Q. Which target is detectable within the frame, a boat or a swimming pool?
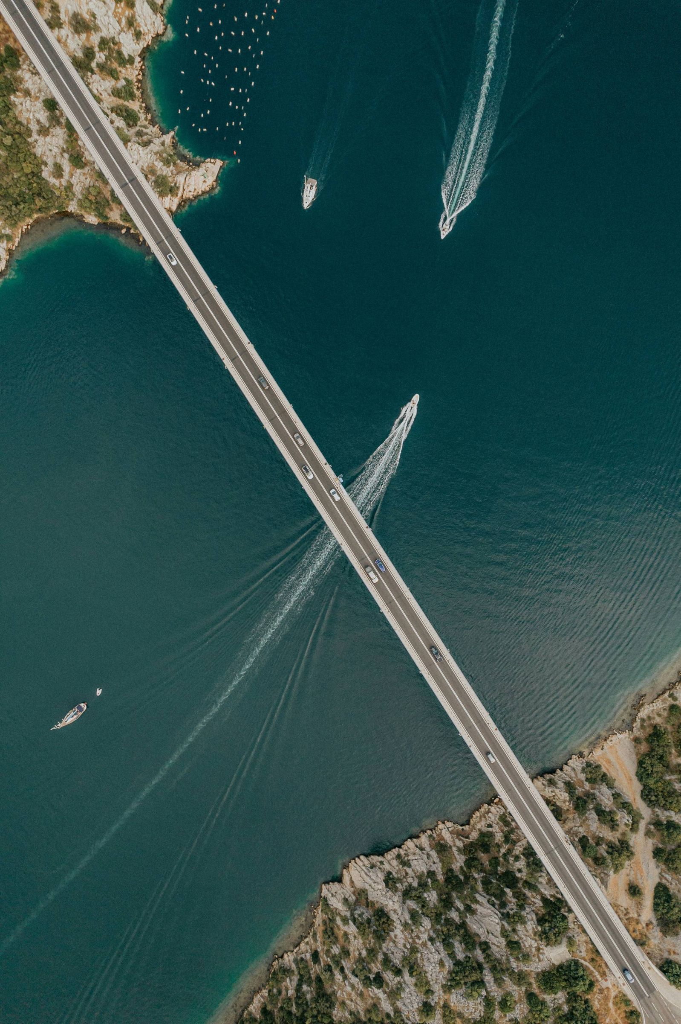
boat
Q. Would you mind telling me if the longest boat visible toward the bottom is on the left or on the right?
left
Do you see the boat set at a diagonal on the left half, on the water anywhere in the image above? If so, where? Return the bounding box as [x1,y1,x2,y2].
[50,703,88,735]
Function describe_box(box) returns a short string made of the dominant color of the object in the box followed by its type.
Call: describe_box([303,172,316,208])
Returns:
white boat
